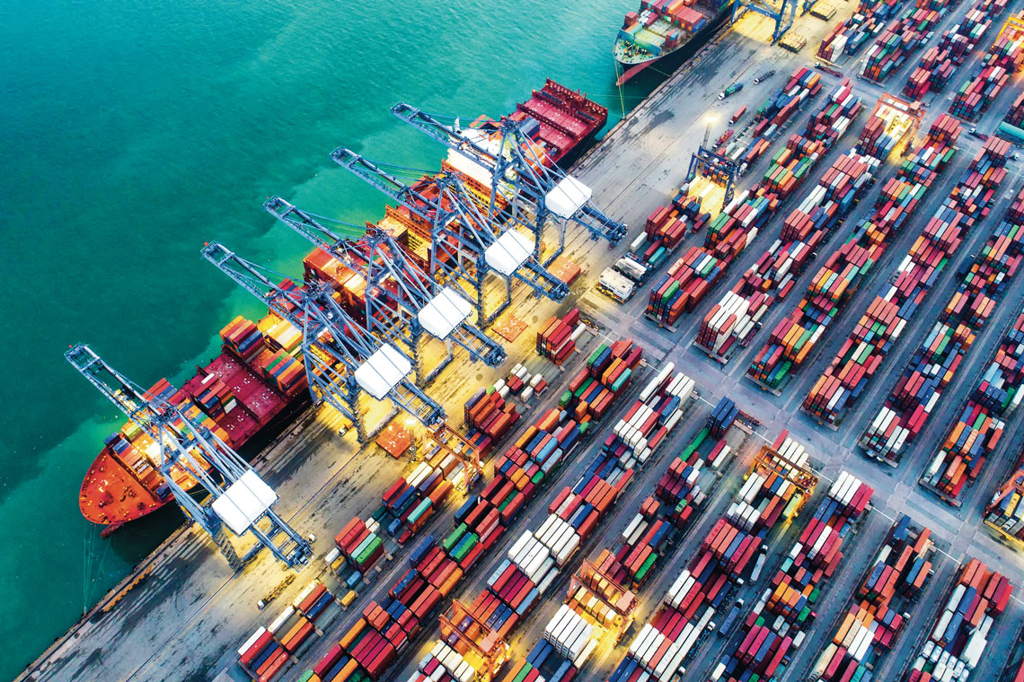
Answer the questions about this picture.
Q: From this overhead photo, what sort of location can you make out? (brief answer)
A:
port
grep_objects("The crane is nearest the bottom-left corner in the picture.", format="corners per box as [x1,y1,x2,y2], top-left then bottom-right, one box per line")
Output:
[56,341,317,569]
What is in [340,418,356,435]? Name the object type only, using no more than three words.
vehicle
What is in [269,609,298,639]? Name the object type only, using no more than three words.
shipping container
